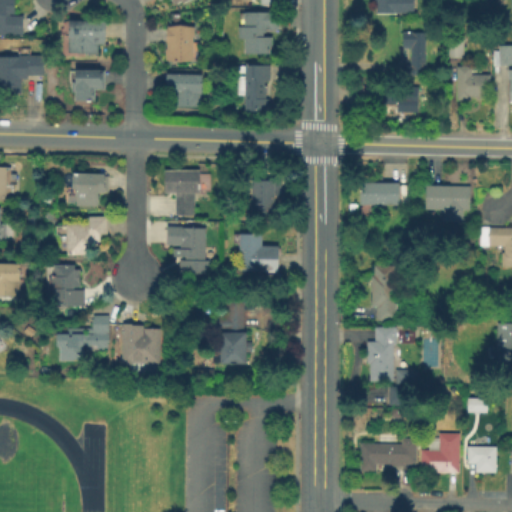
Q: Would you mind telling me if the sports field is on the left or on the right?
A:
left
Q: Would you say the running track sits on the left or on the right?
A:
left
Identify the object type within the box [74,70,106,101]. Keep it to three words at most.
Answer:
house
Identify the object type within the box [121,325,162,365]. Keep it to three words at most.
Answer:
house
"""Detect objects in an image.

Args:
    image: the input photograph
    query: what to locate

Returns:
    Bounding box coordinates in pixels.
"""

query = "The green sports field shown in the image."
[0,418,81,512]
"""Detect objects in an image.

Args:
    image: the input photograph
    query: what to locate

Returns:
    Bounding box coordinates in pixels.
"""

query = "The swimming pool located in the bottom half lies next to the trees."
[420,334,443,370]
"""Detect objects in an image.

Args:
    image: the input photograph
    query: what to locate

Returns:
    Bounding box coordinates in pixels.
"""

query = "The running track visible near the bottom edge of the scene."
[0,399,106,512]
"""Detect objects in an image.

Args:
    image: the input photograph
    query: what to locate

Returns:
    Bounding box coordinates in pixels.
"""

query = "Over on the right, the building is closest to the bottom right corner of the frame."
[468,446,498,474]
